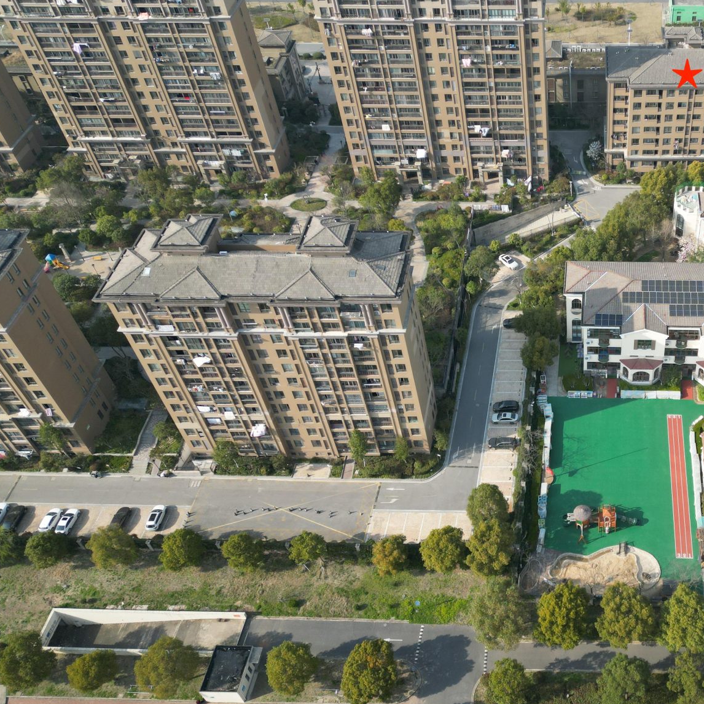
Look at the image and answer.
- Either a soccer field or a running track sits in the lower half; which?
running track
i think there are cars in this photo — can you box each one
[112,505,135,530]
[490,400,520,412]
[36,506,63,532]
[490,411,520,425]
[2,502,27,529]
[490,437,521,452]
[56,507,80,532]
[143,504,166,535]
[0,500,12,518]
[501,317,527,330]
